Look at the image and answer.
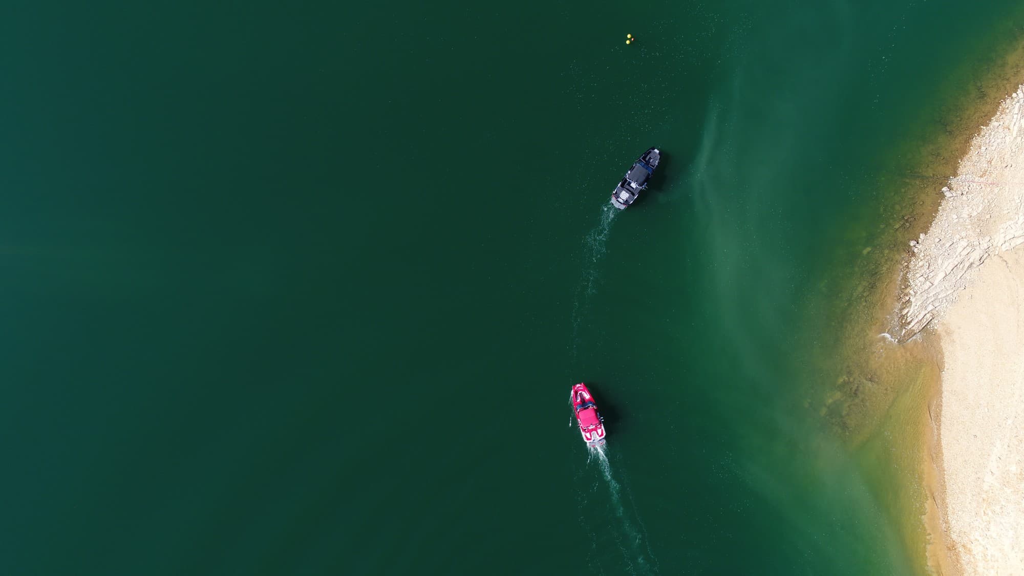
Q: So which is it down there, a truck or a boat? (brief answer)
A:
boat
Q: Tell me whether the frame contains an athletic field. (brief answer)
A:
No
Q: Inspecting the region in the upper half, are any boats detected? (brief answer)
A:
Yes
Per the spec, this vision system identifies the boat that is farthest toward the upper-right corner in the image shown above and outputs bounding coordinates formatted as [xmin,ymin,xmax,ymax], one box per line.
[611,147,659,209]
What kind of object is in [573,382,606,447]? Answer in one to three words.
boat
